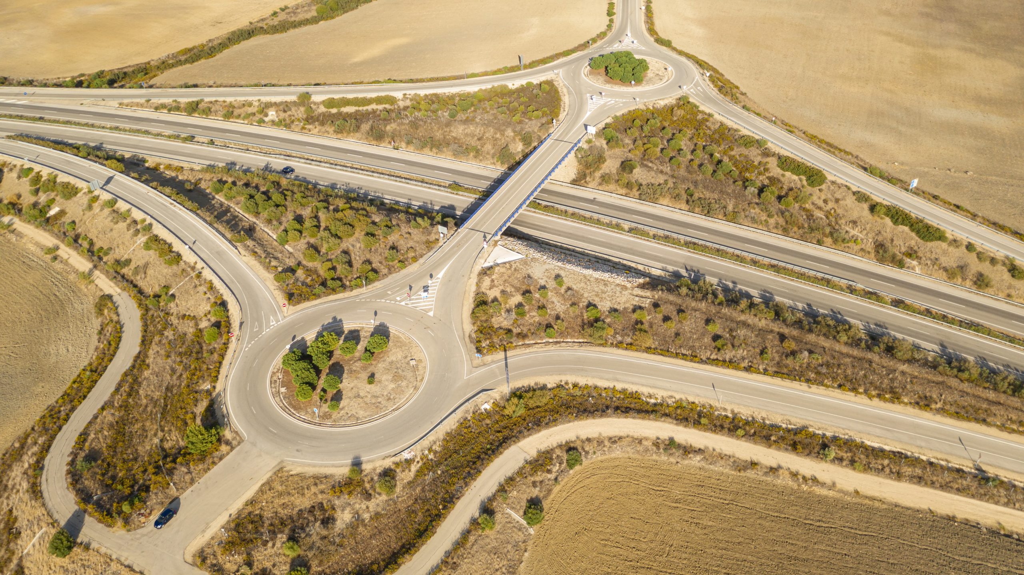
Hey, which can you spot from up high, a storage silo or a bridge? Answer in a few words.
bridge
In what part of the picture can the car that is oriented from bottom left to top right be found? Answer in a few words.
bottom left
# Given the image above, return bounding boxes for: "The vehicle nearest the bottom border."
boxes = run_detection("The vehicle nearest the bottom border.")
[152,507,176,529]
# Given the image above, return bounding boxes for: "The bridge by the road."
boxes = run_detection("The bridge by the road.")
[461,134,577,235]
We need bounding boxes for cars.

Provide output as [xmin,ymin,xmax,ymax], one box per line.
[152,507,176,529]
[281,167,294,174]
